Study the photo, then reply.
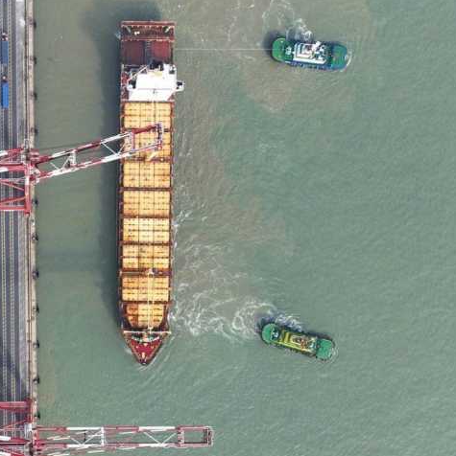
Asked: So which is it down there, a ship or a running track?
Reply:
ship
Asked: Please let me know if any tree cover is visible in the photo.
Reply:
No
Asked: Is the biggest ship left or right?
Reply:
left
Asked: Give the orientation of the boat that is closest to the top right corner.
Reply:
horizontally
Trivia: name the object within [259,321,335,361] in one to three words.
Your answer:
boat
